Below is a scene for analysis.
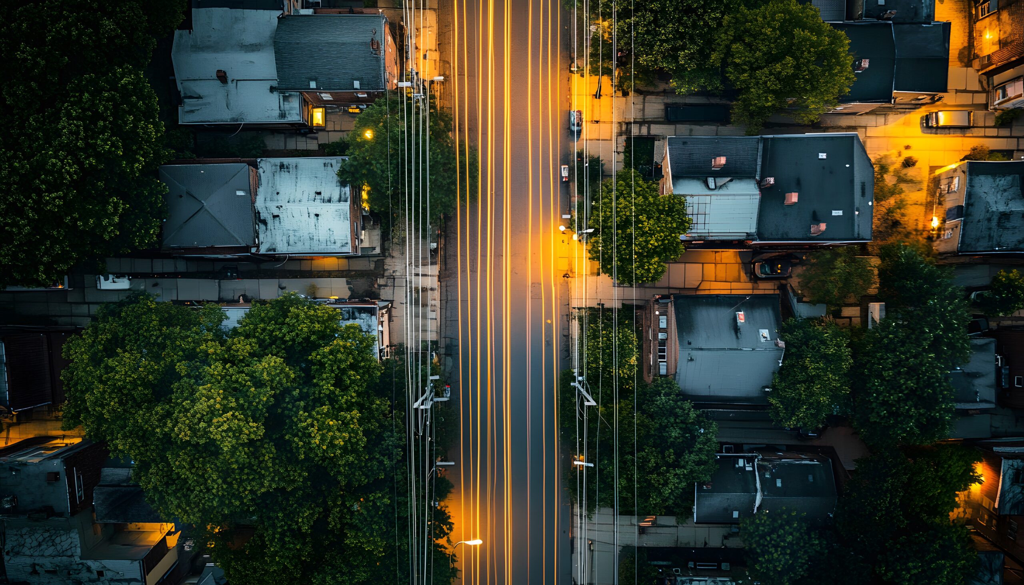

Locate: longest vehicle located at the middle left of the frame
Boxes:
[97,274,135,291]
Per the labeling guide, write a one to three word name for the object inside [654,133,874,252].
house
